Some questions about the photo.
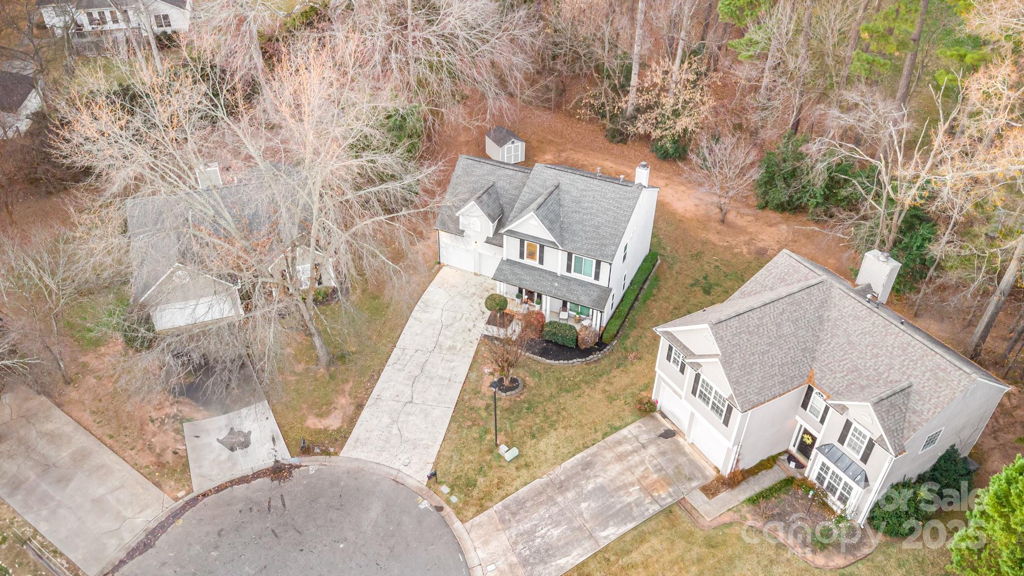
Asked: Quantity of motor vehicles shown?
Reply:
0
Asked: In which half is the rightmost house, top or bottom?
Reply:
bottom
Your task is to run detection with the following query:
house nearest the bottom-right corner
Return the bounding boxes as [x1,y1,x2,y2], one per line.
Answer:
[650,246,1016,528]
